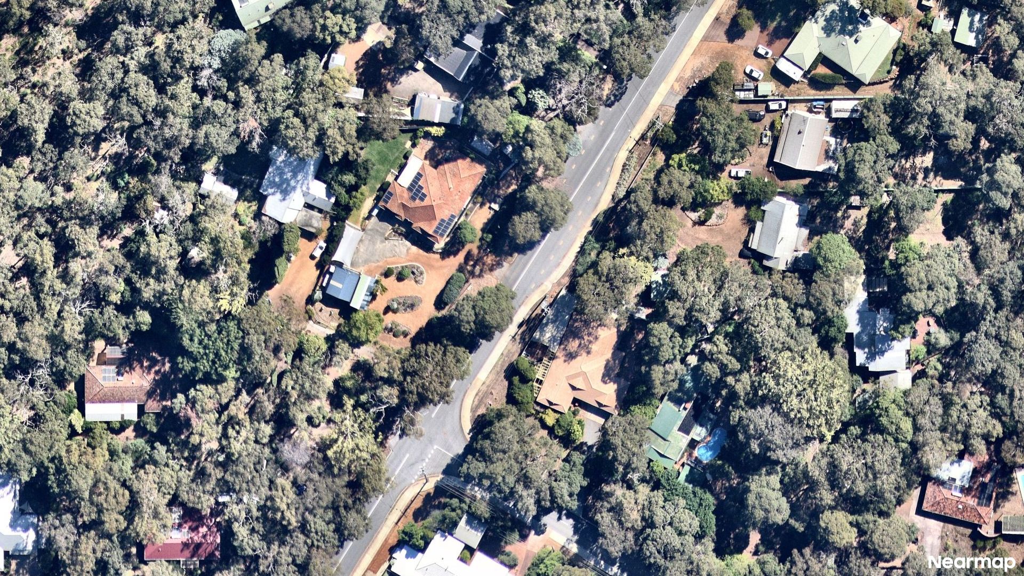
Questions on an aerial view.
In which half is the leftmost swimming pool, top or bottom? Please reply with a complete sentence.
The leftmost swimming pool is in the bottom half of the image.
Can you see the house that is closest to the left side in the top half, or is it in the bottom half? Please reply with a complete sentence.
The bottom half of the photo is where the house that is closest to the left side is.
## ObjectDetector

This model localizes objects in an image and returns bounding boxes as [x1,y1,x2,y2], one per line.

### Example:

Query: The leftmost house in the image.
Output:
[0,476,37,568]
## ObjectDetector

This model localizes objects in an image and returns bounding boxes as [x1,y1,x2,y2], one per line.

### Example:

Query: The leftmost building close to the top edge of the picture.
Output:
[228,0,295,32]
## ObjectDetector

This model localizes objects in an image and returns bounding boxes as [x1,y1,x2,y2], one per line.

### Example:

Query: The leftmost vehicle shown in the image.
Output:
[310,240,326,259]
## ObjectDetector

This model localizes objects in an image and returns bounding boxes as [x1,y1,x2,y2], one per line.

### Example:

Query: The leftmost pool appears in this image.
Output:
[699,429,724,461]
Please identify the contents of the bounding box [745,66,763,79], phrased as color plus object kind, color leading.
white vehicle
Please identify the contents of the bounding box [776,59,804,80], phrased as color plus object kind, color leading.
white camper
